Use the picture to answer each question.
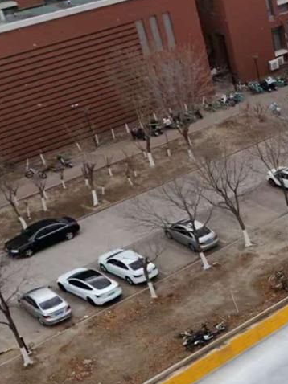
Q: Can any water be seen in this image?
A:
No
